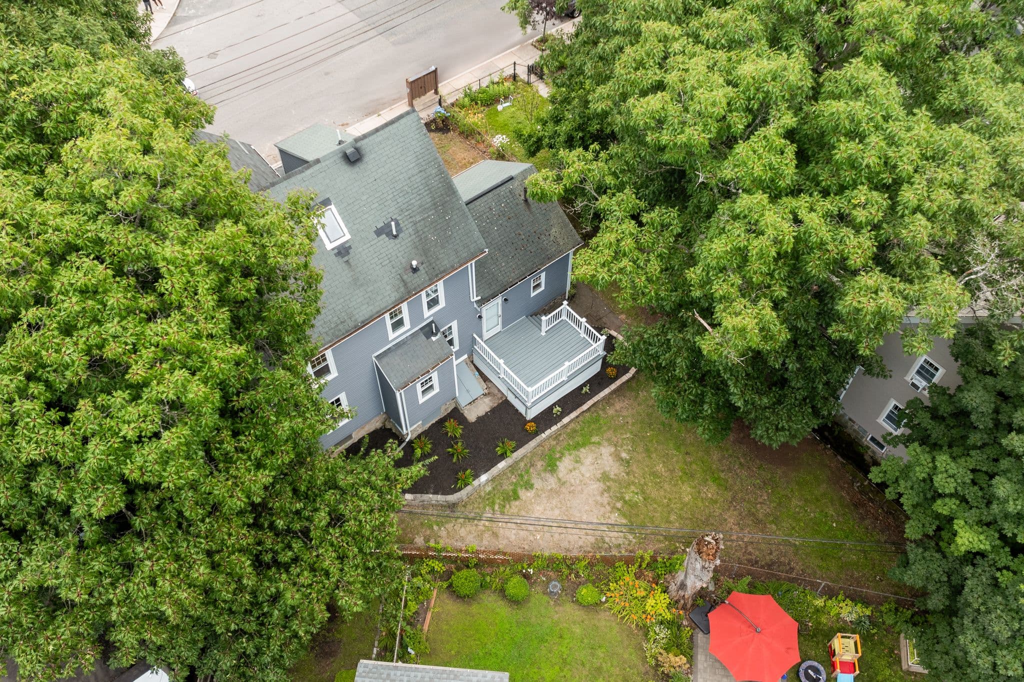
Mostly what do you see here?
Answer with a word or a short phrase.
trees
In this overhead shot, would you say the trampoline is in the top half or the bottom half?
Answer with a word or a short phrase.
bottom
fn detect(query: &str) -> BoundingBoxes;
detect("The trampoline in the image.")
[799,662,828,682]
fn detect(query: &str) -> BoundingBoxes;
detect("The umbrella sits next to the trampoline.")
[688,591,802,682]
